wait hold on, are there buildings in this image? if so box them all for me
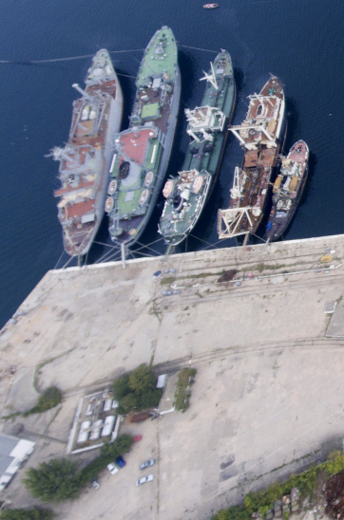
[0,430,48,492]
[157,374,171,389]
